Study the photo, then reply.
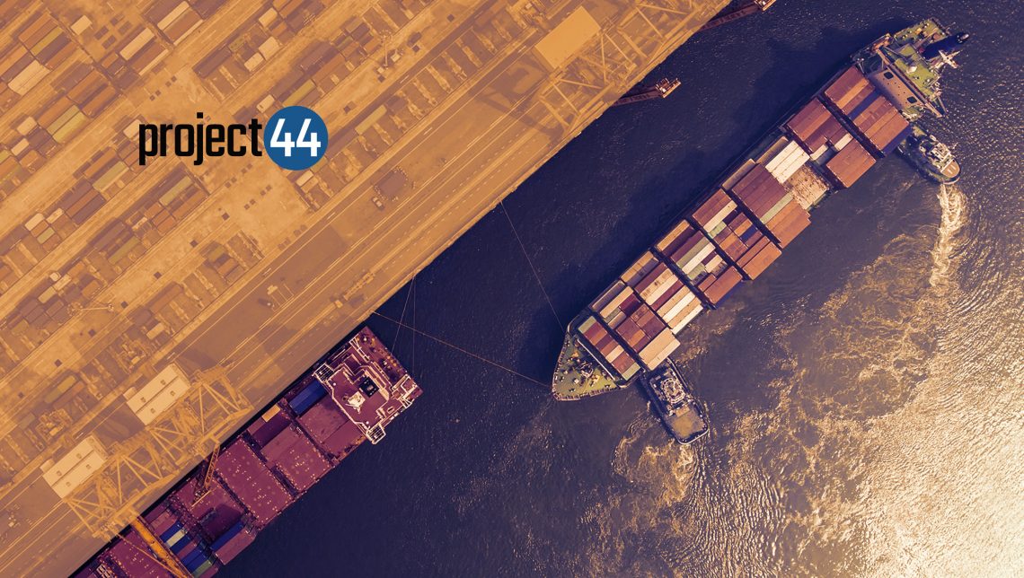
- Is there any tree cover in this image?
No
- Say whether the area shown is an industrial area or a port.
port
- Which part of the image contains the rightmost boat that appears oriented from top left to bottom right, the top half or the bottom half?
top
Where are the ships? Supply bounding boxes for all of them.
[545,15,982,399]
[77,326,424,578]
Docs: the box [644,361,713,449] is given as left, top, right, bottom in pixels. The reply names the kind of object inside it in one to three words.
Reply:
boat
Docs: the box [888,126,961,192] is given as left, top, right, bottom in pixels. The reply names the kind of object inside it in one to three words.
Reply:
boat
